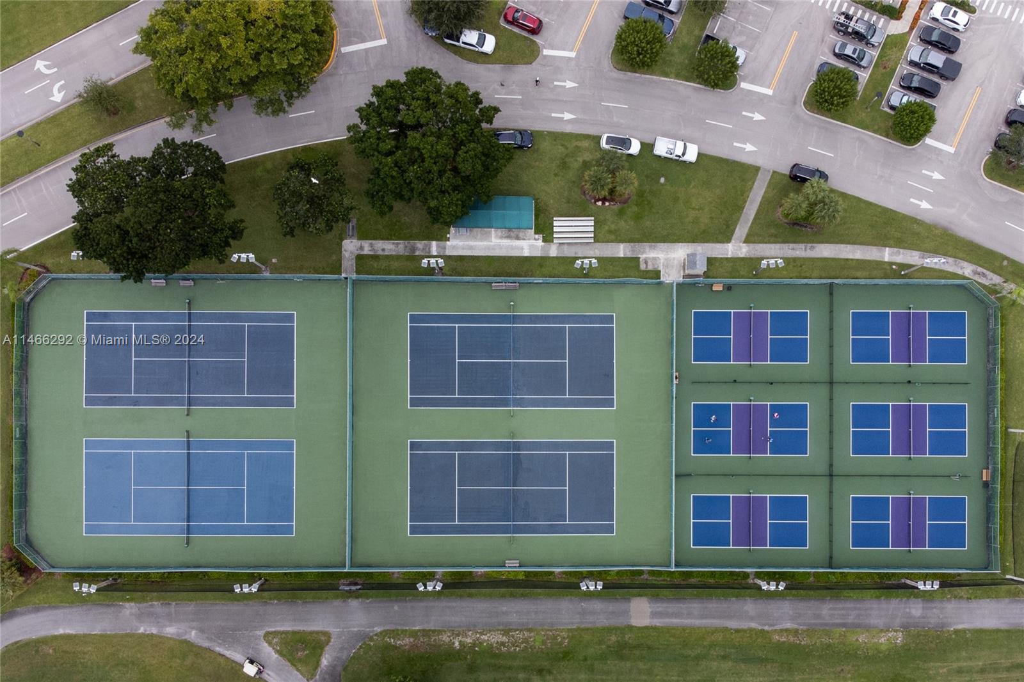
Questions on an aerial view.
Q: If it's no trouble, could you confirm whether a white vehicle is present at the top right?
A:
Yes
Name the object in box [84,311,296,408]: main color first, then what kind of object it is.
blue tennis court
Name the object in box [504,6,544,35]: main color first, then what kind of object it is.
red car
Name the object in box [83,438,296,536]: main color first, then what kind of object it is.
blue tennis court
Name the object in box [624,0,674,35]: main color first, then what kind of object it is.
blue truck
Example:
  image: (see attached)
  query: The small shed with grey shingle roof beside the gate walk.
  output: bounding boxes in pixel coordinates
[686,252,710,276]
